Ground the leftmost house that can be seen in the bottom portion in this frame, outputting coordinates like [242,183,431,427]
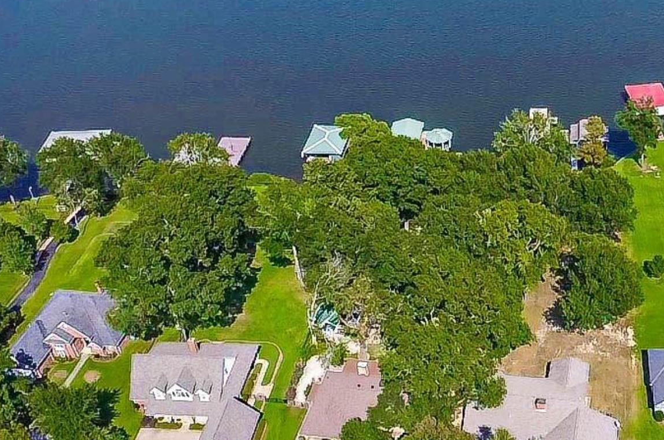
[5,284,144,377]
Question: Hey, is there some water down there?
Yes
